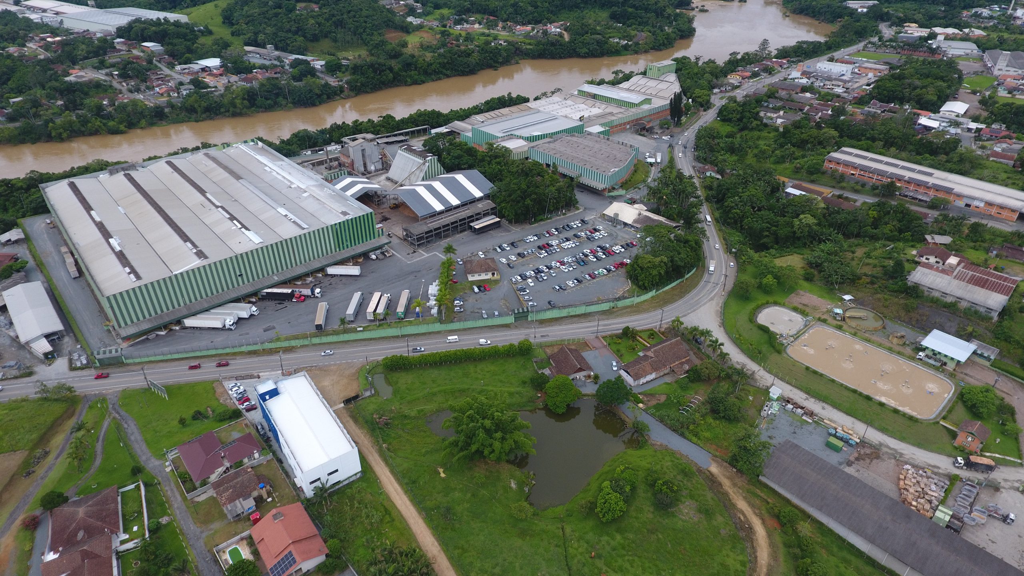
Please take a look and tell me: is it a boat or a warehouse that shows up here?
warehouse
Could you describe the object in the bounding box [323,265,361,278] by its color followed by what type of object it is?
white vehicle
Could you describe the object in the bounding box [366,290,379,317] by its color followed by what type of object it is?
white vehicle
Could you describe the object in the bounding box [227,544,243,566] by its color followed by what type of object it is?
green swimming pool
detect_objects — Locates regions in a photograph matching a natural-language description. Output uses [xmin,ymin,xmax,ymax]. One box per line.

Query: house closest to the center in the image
[460,259,504,284]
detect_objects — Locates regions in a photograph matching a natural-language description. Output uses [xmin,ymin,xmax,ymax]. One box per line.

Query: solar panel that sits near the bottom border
[267,551,294,576]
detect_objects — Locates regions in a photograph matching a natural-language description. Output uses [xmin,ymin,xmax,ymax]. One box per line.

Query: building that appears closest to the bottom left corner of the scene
[42,480,133,576]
